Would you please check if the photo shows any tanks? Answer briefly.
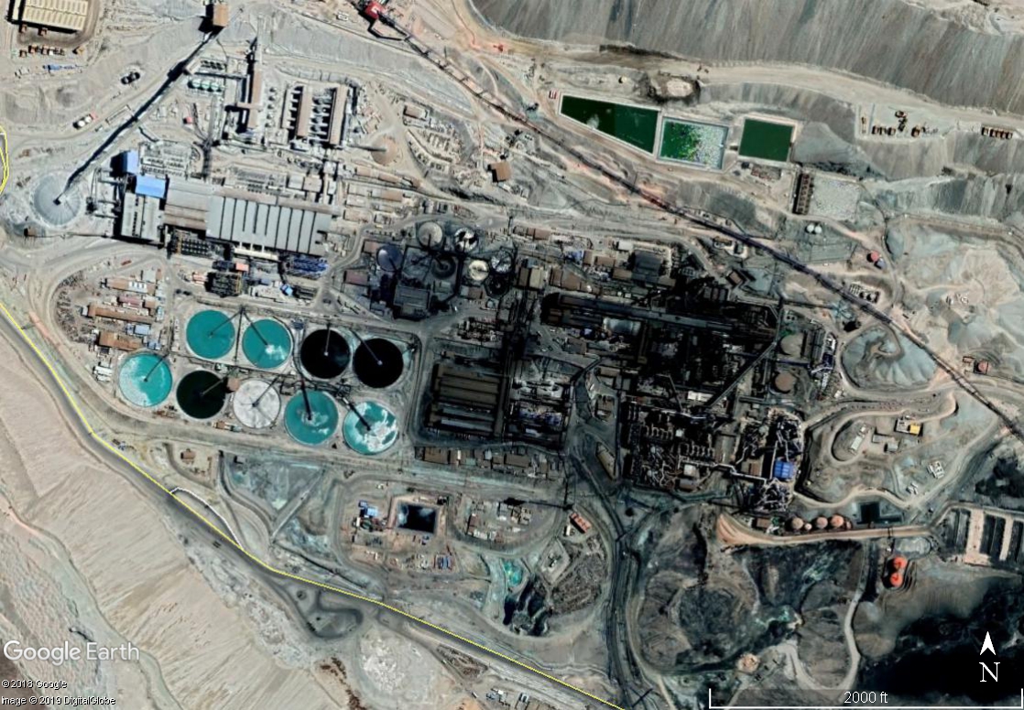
Yes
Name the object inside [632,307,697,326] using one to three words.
building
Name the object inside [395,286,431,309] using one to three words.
building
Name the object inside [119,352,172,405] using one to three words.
storage tank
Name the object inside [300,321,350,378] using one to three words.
storage tank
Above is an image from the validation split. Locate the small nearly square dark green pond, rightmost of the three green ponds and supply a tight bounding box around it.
[737,118,796,163]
